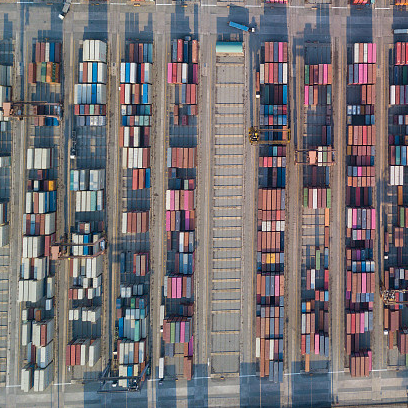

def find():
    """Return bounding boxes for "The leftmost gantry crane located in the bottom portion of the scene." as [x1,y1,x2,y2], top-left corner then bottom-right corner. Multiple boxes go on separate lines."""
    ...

[48,235,109,259]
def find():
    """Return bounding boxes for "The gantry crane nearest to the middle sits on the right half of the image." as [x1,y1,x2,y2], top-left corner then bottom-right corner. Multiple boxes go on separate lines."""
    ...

[245,126,292,146]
